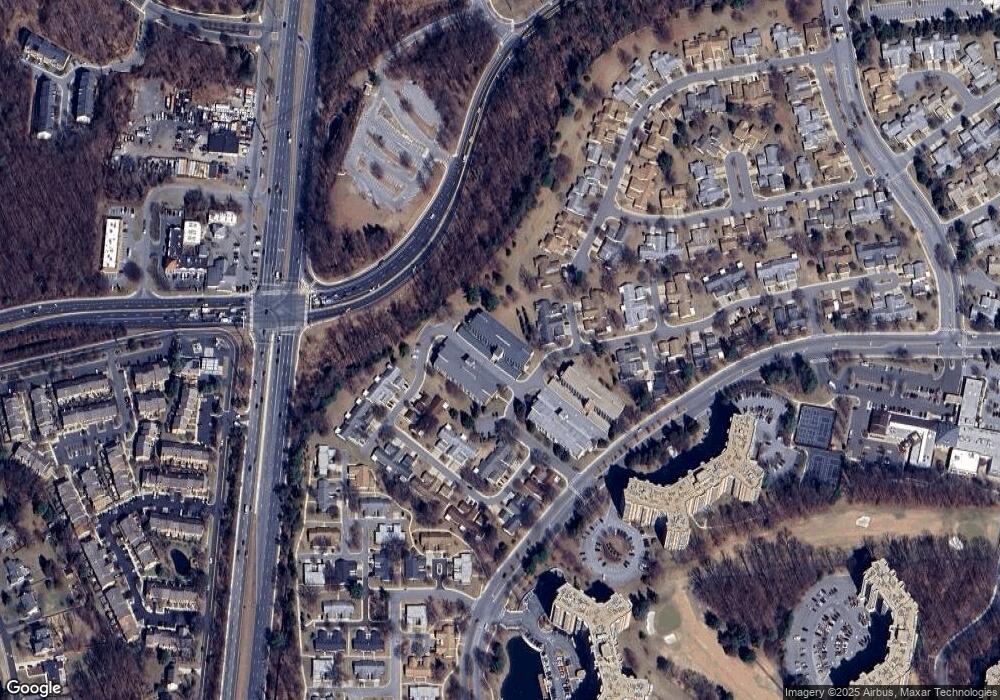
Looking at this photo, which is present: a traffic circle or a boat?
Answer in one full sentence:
It is a traffic circle that can be seen here.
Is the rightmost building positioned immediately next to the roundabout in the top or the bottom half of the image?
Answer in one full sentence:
It is in the bottom half that the rightmost building positioned immediately next to the roundabout appears.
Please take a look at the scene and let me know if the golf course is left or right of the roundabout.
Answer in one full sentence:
You can see the golf course positioned to the right of the roundabout.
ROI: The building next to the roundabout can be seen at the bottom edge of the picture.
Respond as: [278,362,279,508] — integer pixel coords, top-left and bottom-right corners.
[555,581,653,700]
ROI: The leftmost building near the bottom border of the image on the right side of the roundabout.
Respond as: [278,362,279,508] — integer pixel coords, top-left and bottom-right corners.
[842,557,920,700]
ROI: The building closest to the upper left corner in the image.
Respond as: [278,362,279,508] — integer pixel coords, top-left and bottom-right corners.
[24,34,70,72]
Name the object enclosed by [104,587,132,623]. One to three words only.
house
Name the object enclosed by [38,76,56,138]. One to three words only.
building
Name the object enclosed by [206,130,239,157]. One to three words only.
shed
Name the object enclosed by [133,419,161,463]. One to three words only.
house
